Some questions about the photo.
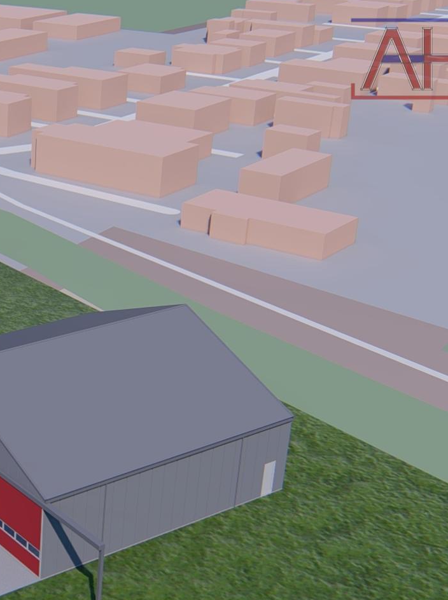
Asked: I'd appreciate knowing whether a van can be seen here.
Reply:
No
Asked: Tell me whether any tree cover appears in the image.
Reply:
No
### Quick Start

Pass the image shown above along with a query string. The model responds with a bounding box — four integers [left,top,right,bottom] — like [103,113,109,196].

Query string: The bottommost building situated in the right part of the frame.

[180,190,358,260]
